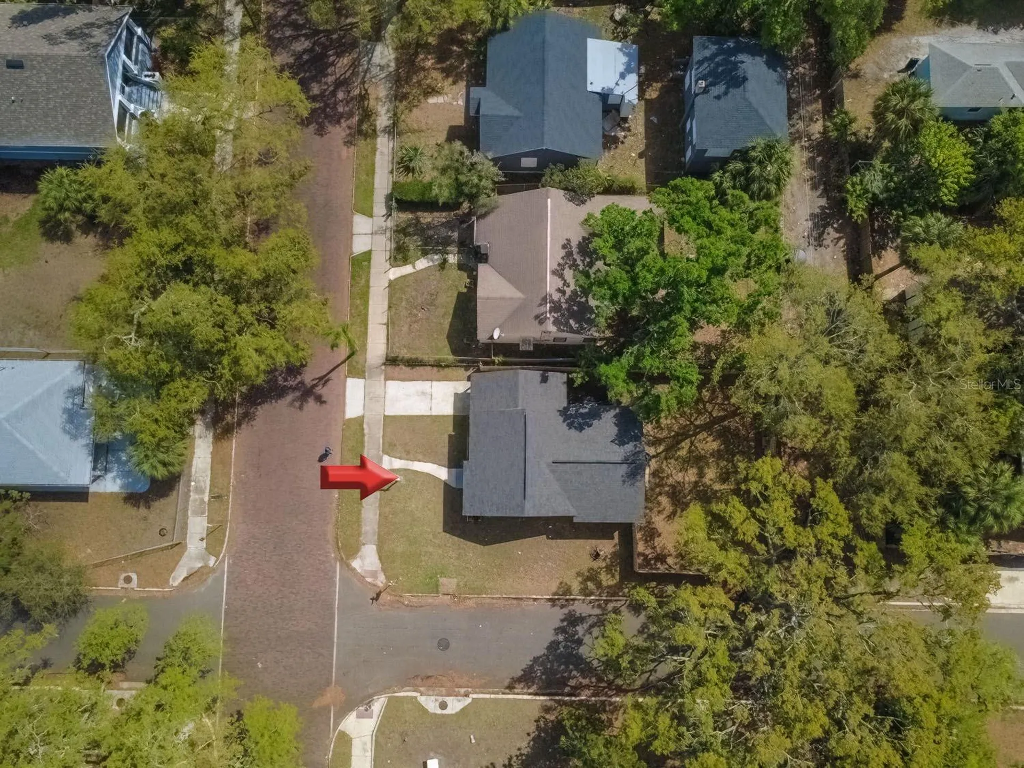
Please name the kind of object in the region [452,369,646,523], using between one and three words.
house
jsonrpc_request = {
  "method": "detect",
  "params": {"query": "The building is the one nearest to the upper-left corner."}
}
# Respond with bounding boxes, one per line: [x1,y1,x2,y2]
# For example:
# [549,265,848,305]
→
[0,4,176,161]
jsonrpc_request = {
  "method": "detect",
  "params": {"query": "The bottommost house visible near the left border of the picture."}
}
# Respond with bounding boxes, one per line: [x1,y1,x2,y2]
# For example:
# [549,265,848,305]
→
[0,360,108,488]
